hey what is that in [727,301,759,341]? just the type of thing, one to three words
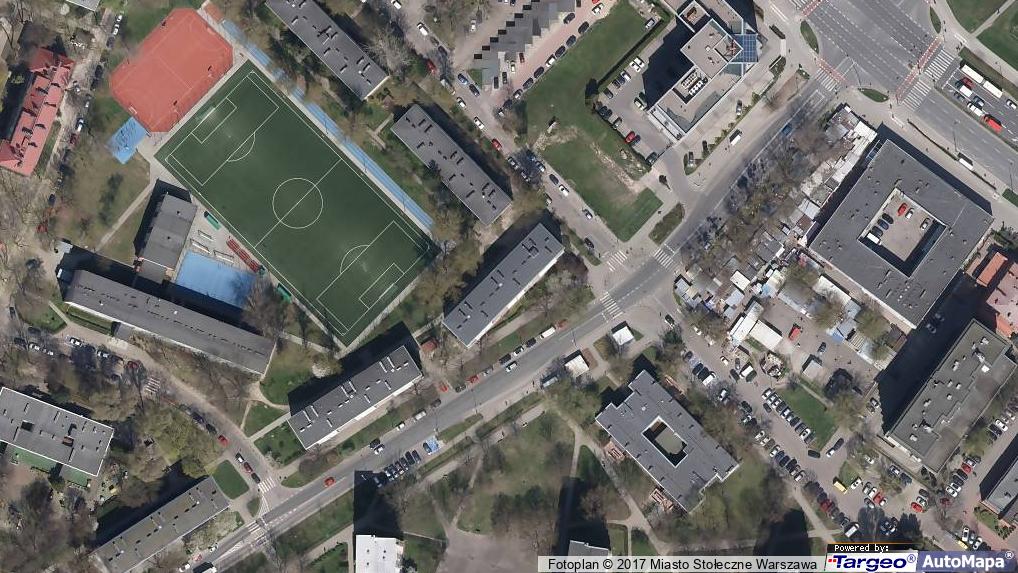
building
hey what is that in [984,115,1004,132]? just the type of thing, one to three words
vehicle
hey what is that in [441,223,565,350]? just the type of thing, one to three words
building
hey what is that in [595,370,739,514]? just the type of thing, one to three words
house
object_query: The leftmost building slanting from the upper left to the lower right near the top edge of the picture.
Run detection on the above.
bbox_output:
[265,0,389,104]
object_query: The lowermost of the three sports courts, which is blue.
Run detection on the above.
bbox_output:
[172,250,256,309]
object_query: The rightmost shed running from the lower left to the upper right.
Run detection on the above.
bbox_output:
[976,252,1008,287]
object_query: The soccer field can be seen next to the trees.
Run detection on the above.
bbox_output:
[154,60,441,346]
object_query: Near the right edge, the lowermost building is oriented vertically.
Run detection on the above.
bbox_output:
[985,459,1018,530]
